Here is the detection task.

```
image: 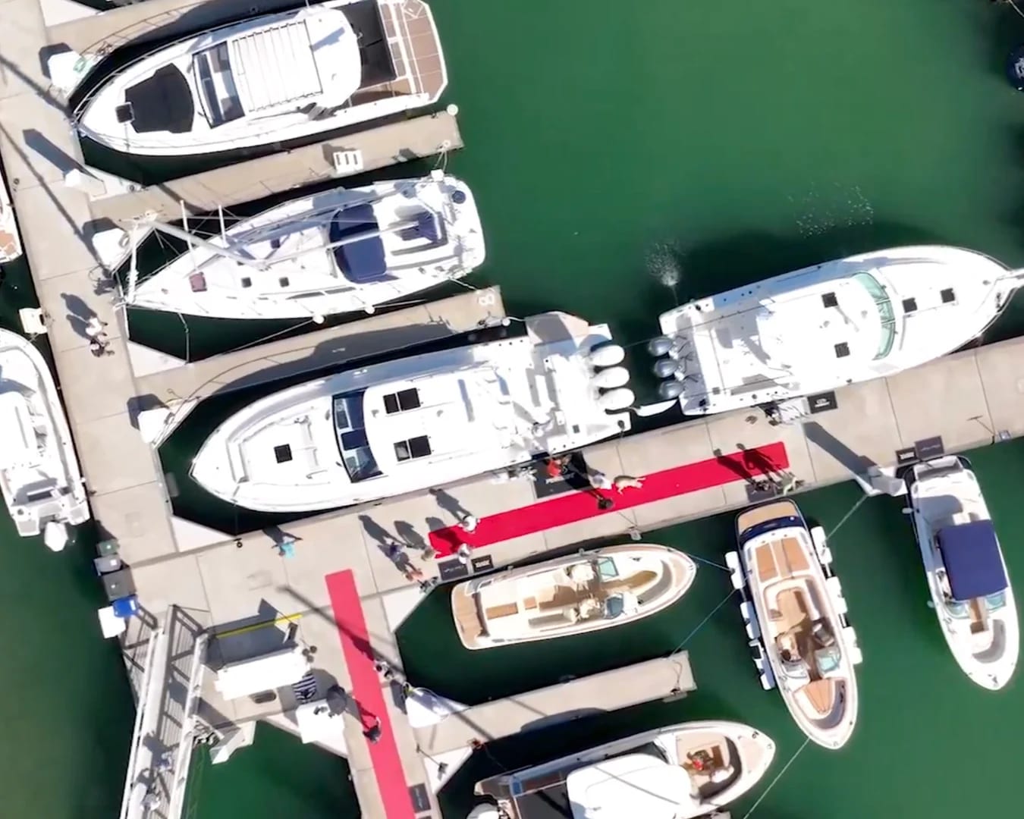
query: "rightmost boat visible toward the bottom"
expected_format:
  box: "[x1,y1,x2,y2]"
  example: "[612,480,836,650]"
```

[901,455,1019,691]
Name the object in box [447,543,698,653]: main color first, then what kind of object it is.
white boat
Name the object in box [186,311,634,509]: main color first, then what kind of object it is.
white boat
